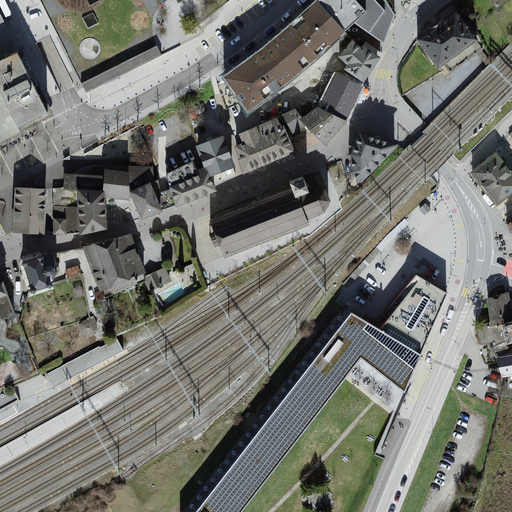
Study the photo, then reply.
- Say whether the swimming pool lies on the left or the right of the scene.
left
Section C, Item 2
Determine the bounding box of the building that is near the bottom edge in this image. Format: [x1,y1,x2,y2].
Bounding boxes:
[196,312,422,512]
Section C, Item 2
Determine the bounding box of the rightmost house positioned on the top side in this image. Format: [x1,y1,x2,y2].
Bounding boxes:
[471,153,512,206]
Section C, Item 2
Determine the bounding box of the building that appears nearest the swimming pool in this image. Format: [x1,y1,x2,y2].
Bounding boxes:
[144,268,172,292]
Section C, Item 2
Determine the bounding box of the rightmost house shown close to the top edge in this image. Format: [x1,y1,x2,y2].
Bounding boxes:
[418,12,476,68]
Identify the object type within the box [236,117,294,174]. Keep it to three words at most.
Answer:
house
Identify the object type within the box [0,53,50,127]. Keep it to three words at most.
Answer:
building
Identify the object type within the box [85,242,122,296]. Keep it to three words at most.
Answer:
barn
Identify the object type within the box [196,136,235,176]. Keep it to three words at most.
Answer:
house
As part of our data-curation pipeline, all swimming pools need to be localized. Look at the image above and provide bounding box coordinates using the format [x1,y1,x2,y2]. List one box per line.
[157,283,185,304]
